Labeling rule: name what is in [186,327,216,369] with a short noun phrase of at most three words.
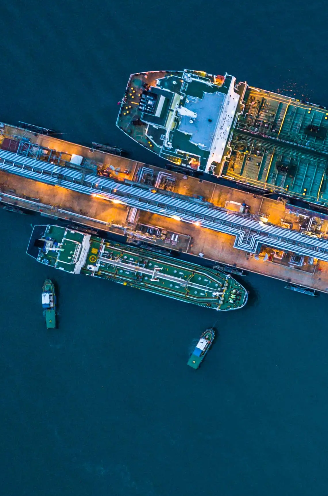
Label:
boat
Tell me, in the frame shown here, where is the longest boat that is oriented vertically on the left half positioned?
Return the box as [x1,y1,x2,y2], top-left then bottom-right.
[39,279,58,329]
